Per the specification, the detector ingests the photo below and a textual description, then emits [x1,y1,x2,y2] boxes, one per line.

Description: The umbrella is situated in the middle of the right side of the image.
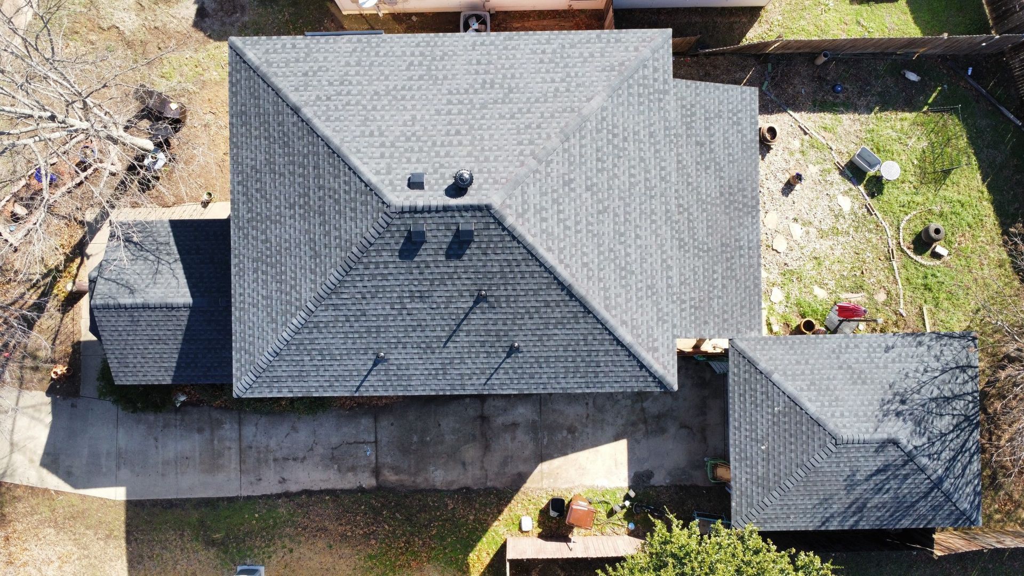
[825,301,884,337]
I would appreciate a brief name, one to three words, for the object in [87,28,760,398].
house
